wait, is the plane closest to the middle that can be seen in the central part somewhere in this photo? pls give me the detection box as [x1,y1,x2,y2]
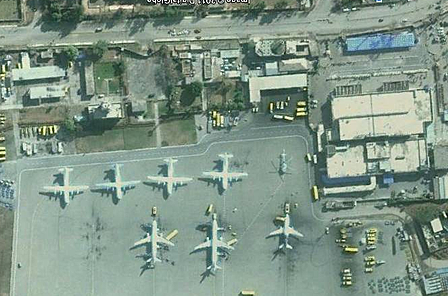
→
[203,153,249,189]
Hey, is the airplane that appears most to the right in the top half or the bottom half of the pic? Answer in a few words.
bottom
